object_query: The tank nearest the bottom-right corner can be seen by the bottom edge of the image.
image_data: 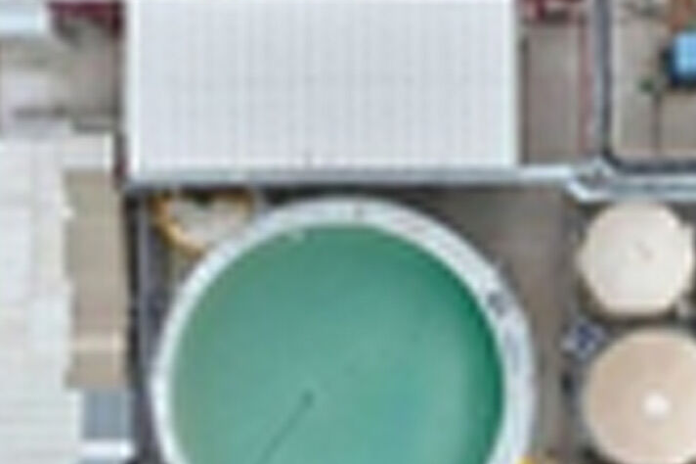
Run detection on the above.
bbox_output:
[578,324,696,464]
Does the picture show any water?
Yes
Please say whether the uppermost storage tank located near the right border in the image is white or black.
white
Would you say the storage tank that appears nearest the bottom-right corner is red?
No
